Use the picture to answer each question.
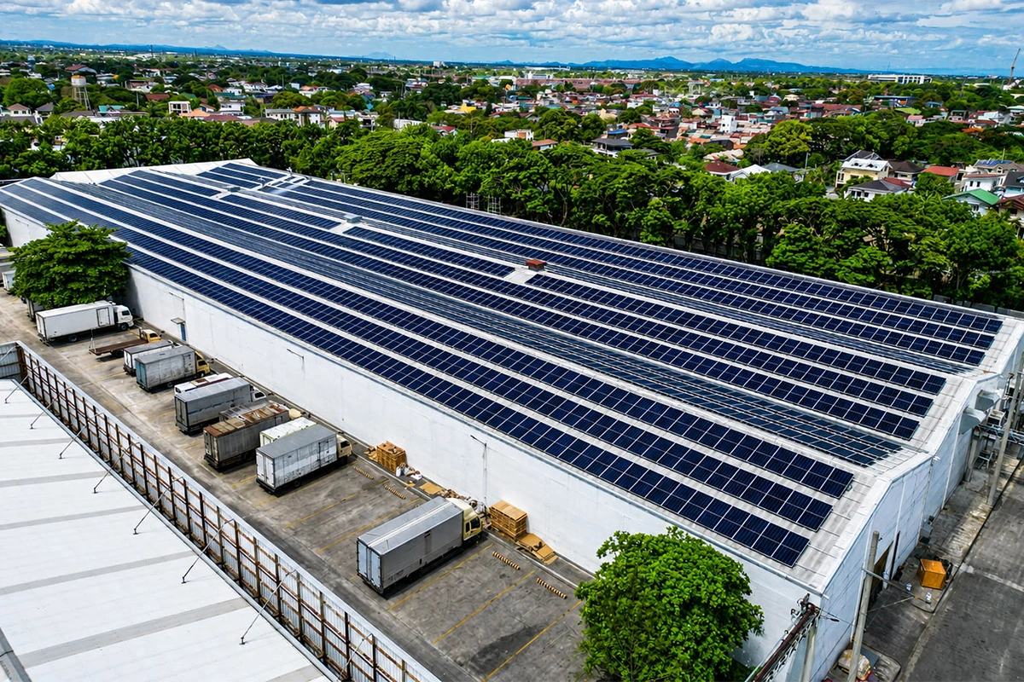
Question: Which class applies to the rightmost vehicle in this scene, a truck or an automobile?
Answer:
truck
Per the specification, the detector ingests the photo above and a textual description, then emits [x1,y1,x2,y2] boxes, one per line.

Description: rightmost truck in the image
[355,491,491,587]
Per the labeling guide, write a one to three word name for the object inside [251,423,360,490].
truck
